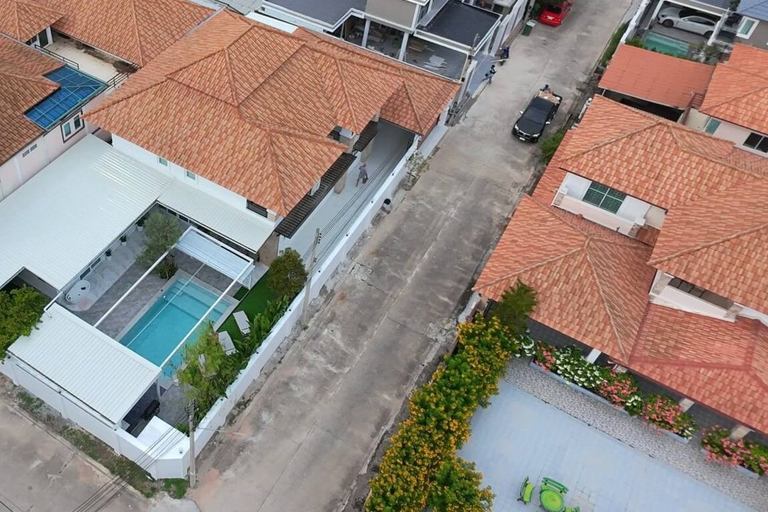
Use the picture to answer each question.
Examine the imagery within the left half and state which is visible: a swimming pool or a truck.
swimming pool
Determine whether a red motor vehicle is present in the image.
Yes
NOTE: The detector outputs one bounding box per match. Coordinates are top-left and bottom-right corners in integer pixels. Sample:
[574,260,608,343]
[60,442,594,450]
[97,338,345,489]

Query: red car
[540,0,574,21]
